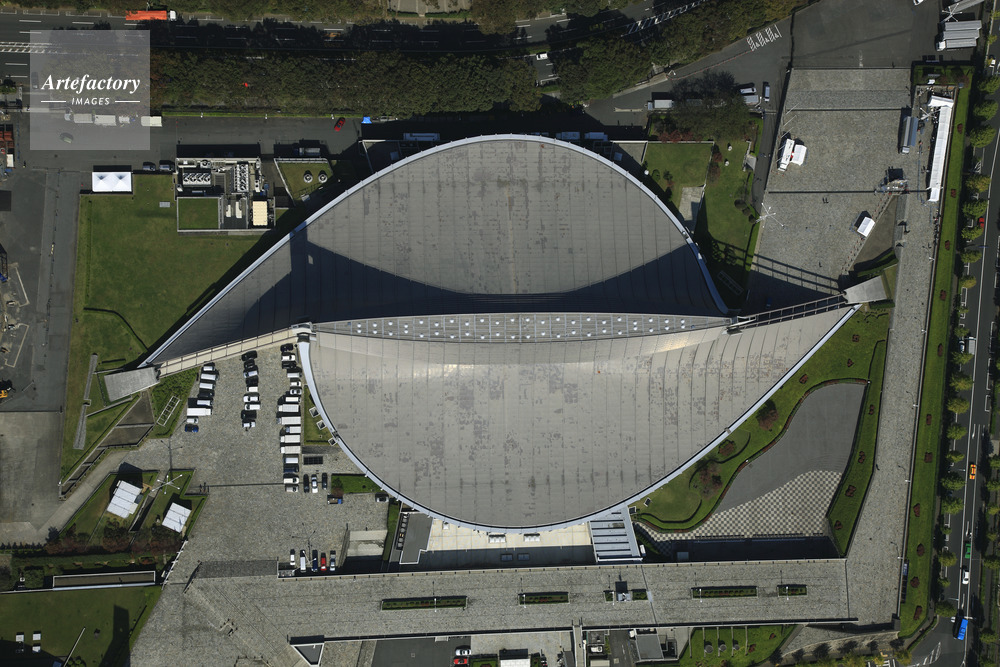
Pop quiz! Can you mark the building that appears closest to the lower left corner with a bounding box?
[53,570,156,592]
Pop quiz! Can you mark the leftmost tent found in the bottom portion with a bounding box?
[107,480,141,518]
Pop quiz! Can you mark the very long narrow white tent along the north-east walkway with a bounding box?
[926,105,953,202]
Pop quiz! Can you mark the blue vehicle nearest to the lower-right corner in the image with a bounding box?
[955,616,969,640]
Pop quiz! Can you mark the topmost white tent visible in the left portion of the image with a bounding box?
[92,172,133,193]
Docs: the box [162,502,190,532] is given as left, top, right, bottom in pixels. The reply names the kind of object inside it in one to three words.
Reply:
tent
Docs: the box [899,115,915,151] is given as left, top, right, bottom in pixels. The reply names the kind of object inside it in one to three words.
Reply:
vehicle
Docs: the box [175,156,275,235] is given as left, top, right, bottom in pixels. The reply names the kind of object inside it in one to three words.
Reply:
building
